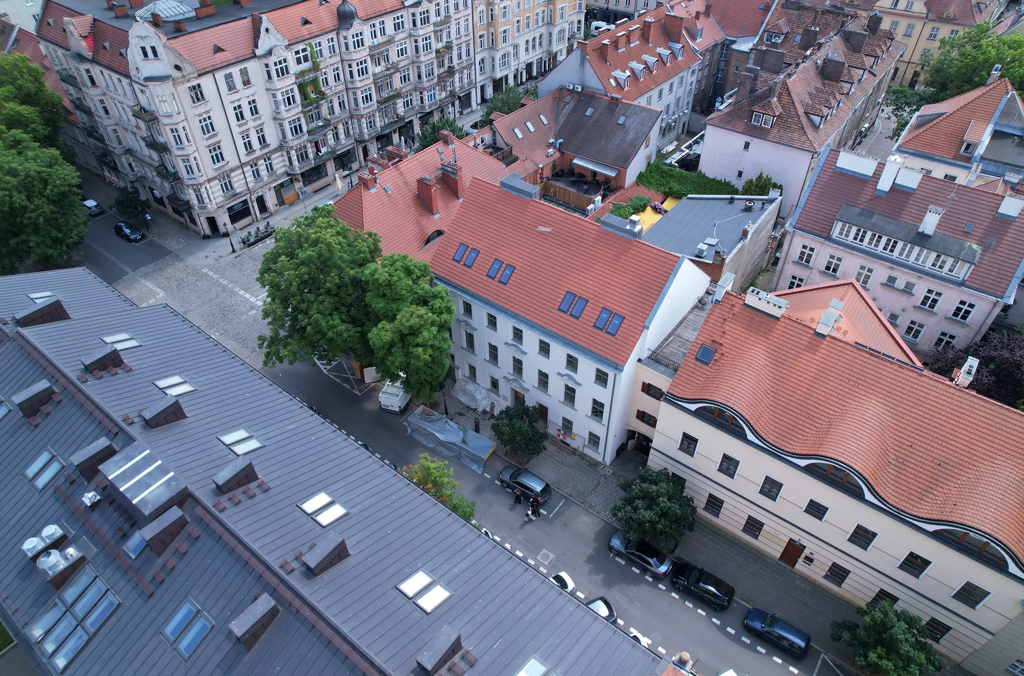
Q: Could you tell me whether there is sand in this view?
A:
No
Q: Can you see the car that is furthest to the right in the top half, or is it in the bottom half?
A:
bottom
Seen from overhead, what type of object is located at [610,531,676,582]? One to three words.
car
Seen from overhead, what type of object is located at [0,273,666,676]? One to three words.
building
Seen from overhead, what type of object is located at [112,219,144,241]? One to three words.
car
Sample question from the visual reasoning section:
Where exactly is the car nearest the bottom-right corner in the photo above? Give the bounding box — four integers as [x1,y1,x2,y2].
[740,606,817,668]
